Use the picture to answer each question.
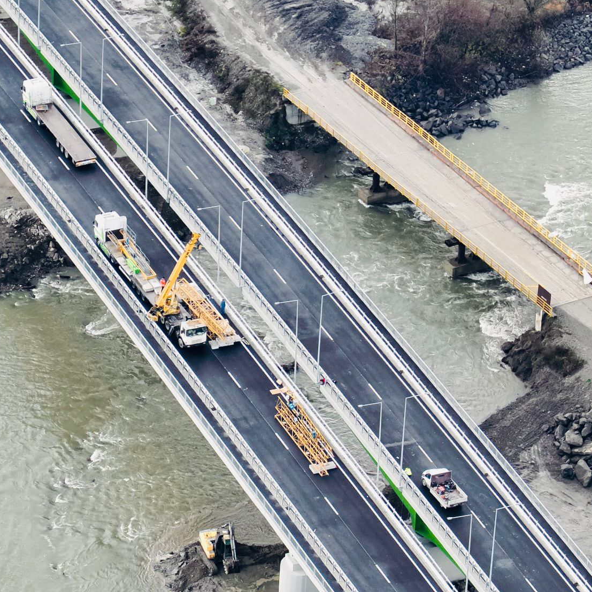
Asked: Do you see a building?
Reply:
No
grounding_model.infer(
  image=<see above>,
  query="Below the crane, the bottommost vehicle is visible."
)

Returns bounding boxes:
[191,526,234,579]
